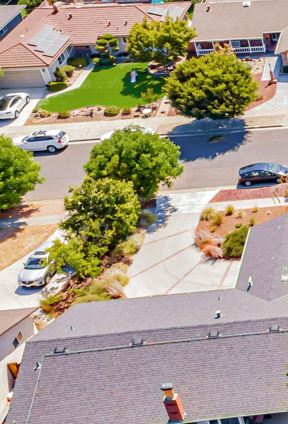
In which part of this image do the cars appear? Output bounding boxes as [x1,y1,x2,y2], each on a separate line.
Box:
[0,240,58,293]
[0,93,34,119]
[15,123,70,151]
[234,162,288,187]
[97,122,154,146]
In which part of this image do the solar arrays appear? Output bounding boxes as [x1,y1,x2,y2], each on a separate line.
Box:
[157,1,179,13]
[30,32,65,57]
